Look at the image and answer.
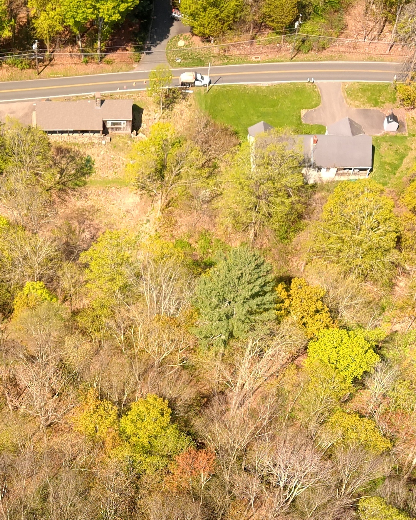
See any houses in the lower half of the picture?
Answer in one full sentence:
No, in the lower half of the picture there is no house.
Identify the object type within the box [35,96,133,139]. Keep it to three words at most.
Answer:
house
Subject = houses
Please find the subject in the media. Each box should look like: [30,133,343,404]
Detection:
[35,96,133,139]
[247,117,373,183]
